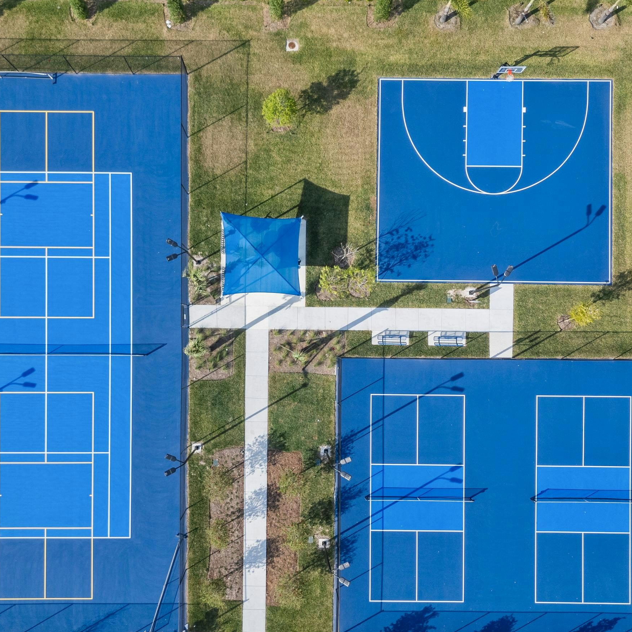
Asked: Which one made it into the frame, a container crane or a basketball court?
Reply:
basketball court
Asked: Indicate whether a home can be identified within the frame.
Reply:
No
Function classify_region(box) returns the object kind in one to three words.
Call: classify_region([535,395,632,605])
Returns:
sports court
